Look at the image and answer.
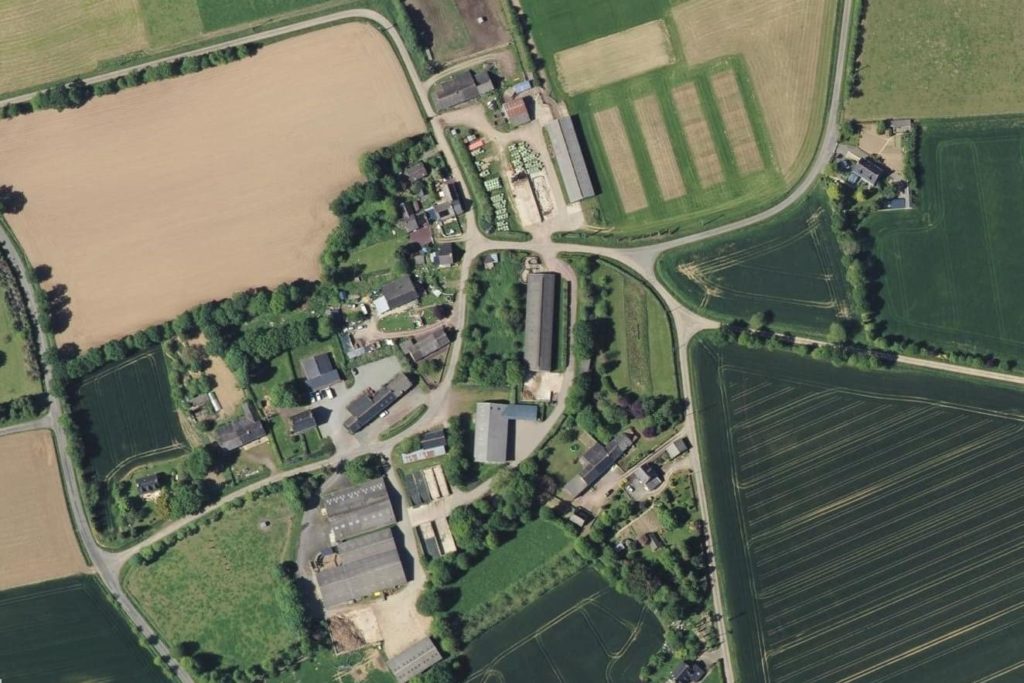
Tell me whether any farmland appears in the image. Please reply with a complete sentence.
Yes, there's farmland in this view.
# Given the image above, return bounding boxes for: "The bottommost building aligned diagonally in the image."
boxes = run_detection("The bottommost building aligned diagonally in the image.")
[387,637,442,683]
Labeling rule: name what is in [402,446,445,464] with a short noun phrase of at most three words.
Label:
shed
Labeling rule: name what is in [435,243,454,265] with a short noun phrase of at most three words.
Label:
house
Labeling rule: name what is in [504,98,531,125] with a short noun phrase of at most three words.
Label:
barn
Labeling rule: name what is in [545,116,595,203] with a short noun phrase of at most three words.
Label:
building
